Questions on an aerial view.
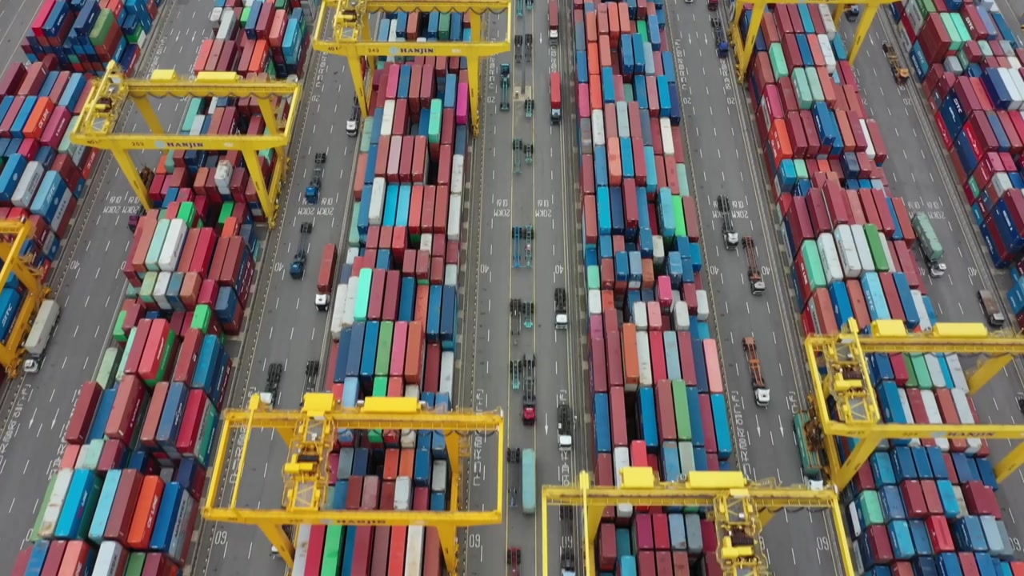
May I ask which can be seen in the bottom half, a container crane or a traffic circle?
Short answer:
container crane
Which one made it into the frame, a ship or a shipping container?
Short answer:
shipping container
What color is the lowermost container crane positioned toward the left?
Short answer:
yellow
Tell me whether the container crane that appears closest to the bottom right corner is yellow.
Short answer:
Yes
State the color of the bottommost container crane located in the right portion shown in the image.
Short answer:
yellow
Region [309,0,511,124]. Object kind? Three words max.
container crane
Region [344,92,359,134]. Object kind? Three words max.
vehicle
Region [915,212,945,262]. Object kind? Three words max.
shipping container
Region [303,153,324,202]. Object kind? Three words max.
truck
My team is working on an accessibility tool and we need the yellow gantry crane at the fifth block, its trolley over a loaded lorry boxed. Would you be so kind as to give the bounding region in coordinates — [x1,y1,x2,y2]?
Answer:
[806,317,1024,486]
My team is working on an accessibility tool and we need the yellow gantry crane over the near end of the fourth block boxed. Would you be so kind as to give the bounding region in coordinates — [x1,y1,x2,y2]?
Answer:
[543,463,858,576]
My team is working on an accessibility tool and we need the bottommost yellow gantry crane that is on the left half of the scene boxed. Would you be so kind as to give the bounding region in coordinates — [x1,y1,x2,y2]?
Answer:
[200,391,504,576]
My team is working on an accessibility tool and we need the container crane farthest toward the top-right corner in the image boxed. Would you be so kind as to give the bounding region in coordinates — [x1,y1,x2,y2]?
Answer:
[727,0,911,73]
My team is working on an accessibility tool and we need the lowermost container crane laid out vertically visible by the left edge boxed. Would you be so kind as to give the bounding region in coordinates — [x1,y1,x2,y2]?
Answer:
[0,222,49,375]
